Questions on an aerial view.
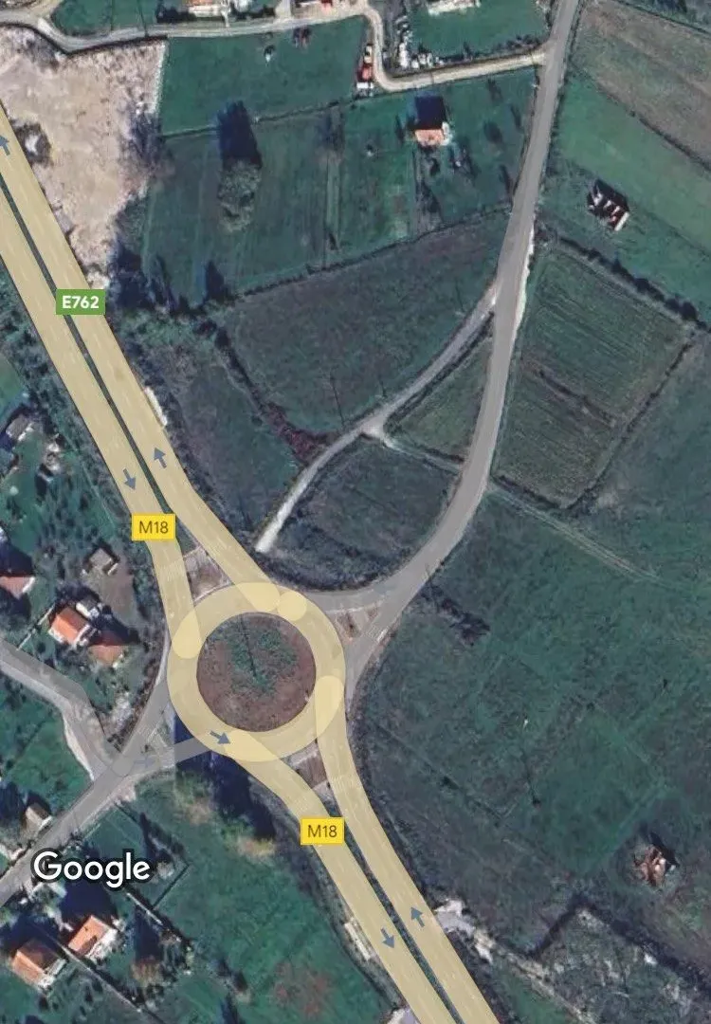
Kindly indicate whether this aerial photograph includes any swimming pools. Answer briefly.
No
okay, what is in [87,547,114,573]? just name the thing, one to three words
shed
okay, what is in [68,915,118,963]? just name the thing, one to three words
house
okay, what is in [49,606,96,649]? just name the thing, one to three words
house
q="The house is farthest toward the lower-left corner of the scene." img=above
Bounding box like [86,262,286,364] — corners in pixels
[11,941,64,990]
